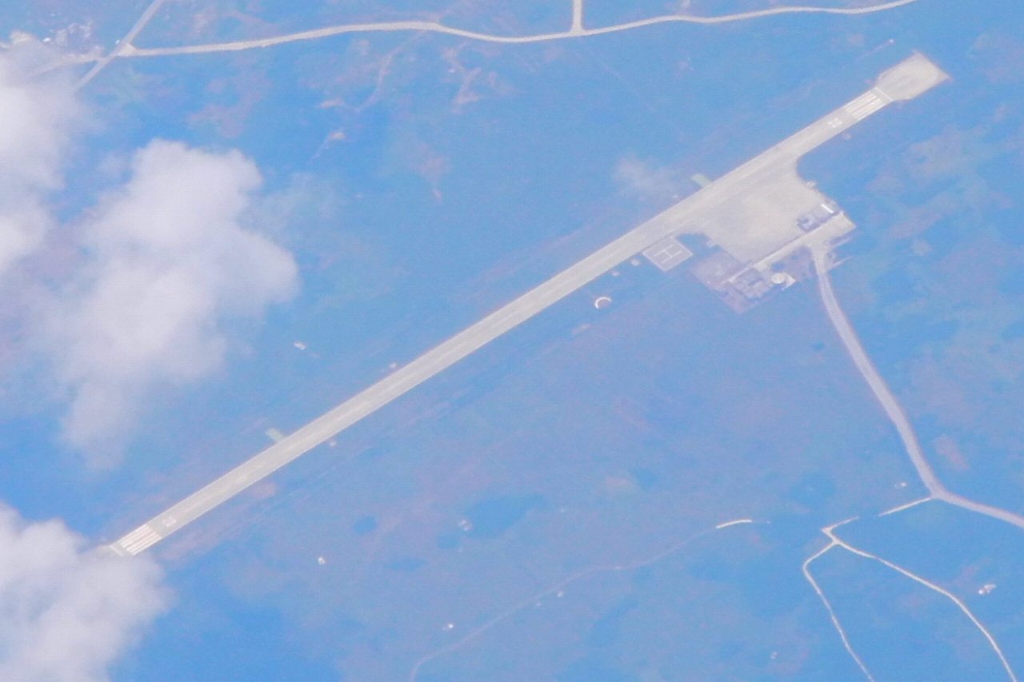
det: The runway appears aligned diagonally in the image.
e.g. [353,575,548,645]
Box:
[101,88,893,563]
